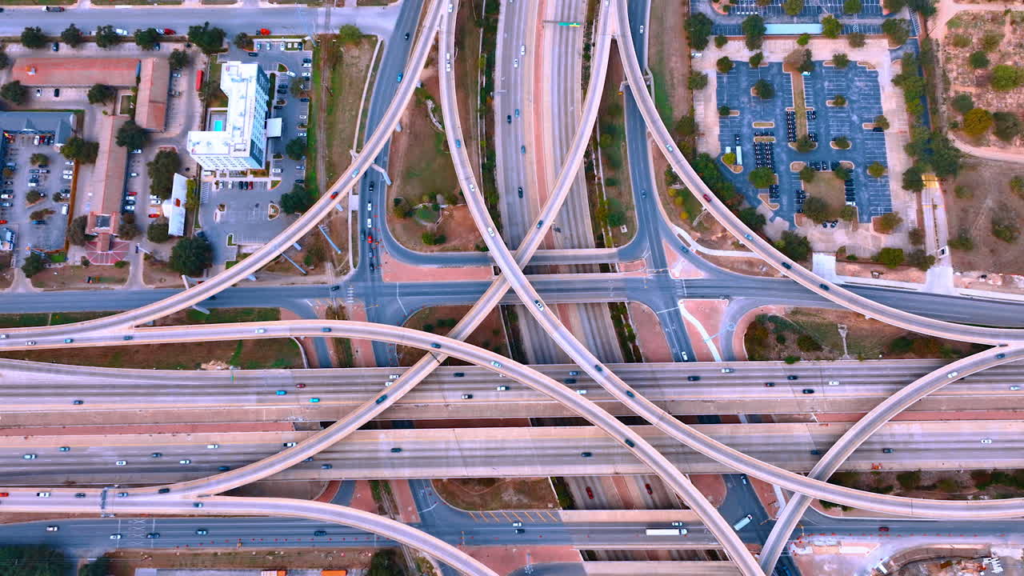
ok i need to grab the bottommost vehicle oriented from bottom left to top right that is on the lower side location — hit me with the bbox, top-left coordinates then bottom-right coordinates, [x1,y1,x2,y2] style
[735,513,753,531]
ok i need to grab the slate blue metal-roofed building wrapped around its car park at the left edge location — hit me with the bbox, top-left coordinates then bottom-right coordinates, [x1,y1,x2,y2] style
[0,112,78,189]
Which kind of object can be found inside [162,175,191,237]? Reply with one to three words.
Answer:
building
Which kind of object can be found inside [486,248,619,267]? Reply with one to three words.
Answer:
bridge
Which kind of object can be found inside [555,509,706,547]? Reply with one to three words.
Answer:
overpass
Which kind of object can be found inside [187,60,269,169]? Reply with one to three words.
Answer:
building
